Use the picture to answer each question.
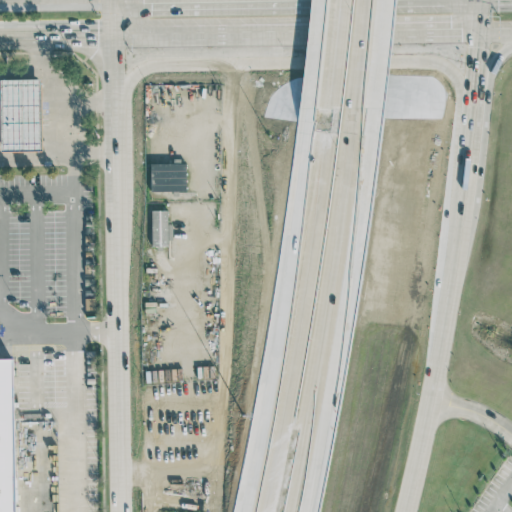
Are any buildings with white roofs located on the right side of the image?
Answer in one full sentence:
No, no building with a white roof appears on the right side of the image.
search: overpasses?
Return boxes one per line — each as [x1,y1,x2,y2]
[300,0,396,108]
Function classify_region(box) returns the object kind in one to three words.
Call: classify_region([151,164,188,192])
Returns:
building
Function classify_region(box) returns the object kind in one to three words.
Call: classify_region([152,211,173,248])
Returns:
barn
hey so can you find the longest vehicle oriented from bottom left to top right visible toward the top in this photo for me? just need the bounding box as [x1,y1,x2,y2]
[490,50,506,74]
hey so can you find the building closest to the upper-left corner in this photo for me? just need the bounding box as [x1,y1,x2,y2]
[0,80,42,153]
